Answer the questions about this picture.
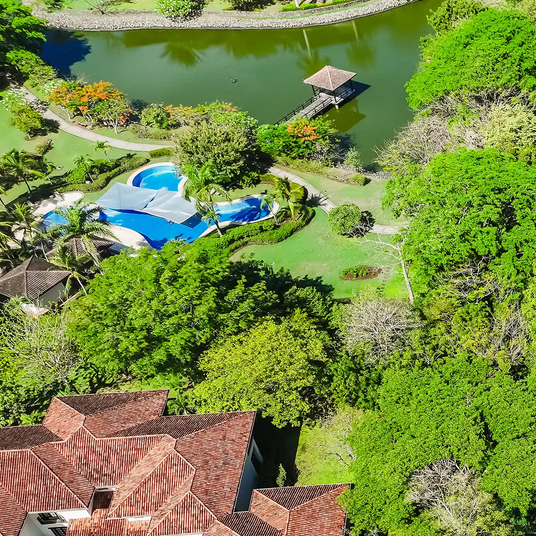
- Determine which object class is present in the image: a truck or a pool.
pool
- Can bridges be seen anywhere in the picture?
No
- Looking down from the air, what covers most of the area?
trees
